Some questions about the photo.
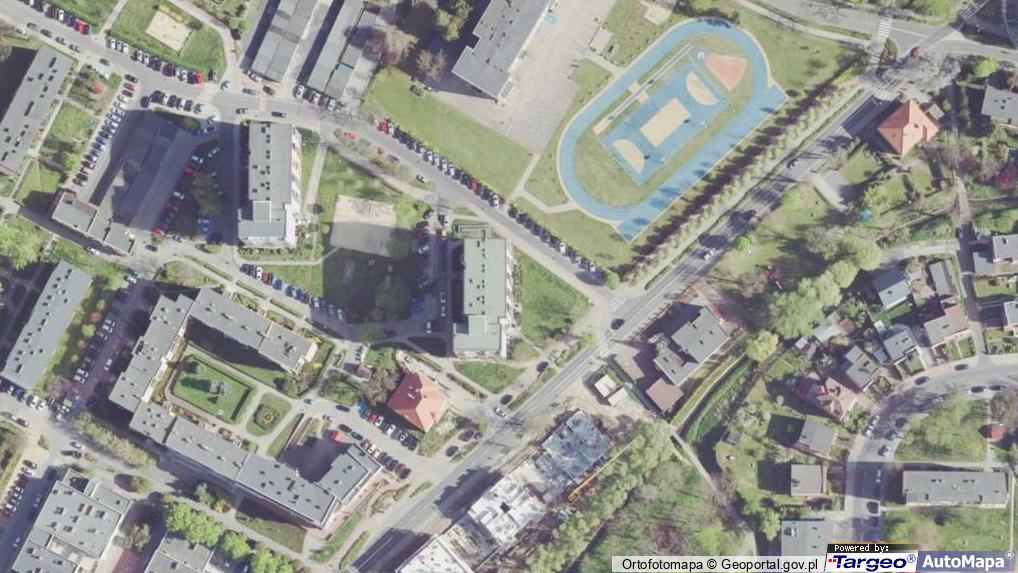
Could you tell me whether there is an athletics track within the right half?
Yes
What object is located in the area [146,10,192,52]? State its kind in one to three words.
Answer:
sports field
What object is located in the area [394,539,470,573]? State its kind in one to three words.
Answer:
building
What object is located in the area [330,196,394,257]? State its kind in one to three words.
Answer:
sports field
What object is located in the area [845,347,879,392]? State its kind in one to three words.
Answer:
house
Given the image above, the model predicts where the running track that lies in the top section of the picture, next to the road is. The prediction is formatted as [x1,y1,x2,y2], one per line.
[557,14,787,242]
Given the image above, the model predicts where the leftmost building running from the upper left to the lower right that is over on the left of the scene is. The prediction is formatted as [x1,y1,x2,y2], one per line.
[52,193,136,257]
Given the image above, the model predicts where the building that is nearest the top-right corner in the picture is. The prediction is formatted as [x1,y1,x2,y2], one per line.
[980,84,1018,126]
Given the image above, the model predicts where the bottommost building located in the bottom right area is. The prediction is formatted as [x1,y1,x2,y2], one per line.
[779,517,832,573]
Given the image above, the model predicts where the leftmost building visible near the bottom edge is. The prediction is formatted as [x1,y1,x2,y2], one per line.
[10,468,134,573]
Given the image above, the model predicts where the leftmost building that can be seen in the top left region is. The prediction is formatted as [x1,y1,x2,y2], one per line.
[0,45,82,175]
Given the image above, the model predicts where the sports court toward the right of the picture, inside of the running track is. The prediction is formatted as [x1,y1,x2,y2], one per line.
[597,61,733,188]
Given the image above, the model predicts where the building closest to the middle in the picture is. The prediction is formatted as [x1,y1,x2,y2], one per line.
[452,238,516,359]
